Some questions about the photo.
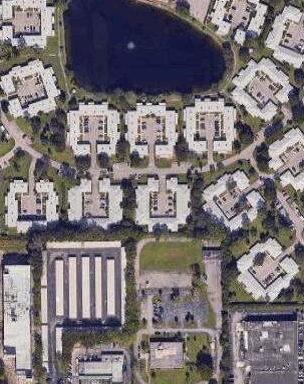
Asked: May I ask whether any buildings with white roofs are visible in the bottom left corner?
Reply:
Yes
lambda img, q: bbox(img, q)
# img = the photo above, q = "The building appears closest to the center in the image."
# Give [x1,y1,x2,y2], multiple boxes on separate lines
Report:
[135,173,189,233]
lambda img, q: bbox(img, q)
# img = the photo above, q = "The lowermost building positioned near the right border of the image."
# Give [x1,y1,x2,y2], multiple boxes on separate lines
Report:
[243,321,297,384]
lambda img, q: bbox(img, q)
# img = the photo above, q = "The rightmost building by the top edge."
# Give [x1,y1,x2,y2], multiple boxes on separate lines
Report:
[265,6,304,67]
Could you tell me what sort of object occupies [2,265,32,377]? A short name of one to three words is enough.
building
